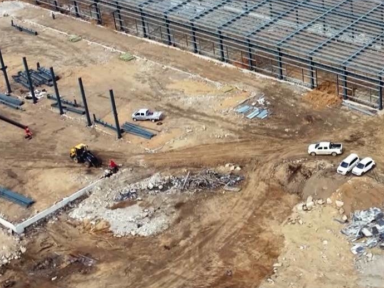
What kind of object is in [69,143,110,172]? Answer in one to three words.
work vehicle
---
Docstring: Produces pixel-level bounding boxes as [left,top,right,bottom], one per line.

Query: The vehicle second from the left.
[130,107,164,122]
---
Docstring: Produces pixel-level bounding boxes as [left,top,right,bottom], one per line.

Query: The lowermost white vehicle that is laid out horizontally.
[307,140,342,155]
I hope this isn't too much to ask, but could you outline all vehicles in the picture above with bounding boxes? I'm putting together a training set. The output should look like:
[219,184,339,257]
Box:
[339,153,363,175]
[69,143,110,172]
[353,155,377,176]
[307,140,342,155]
[130,107,164,122]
